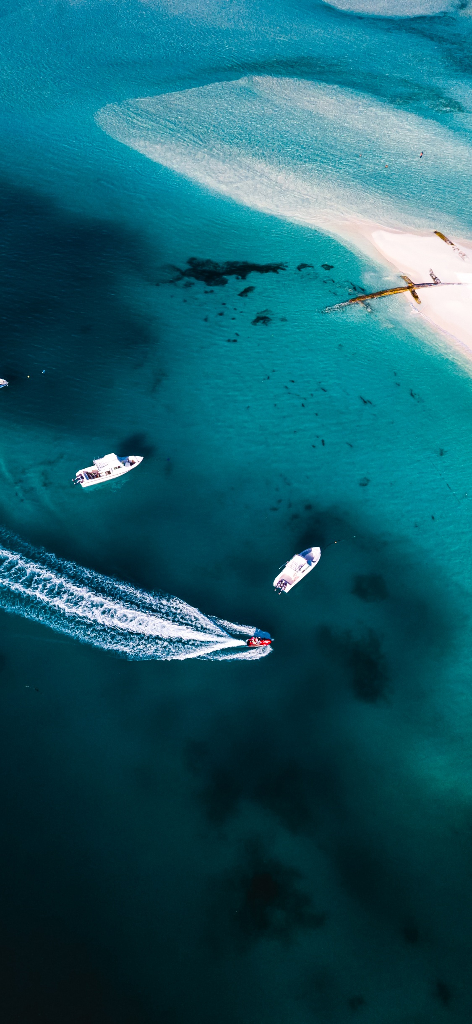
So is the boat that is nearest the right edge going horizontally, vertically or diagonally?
diagonally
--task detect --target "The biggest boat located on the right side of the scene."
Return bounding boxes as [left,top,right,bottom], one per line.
[272,546,322,596]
